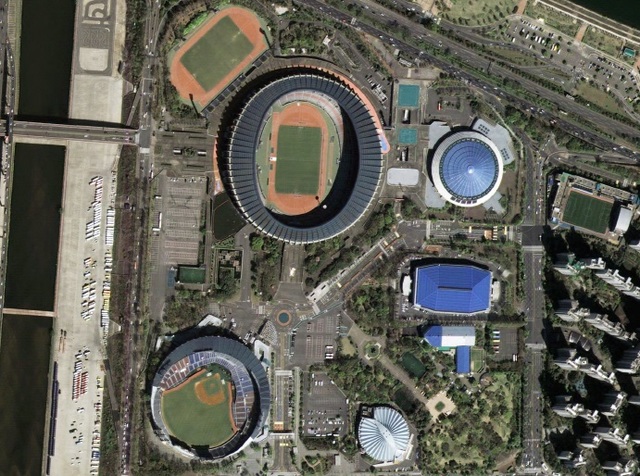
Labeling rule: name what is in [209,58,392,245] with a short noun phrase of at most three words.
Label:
stadium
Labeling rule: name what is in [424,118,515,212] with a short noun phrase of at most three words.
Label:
building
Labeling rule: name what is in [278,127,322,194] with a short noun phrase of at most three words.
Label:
sports field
